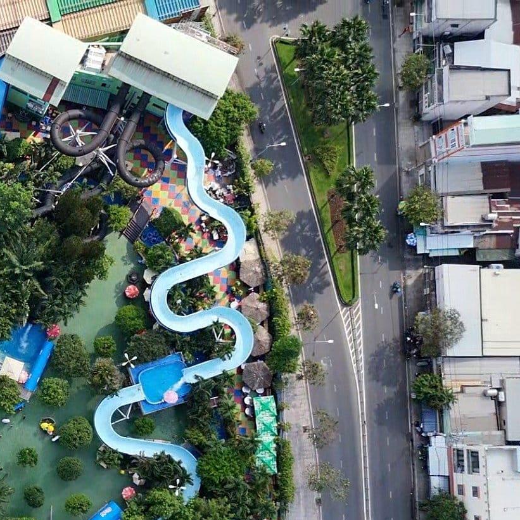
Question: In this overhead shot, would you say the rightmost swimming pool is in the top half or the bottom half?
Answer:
bottom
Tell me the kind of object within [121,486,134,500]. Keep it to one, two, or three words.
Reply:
umbrella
